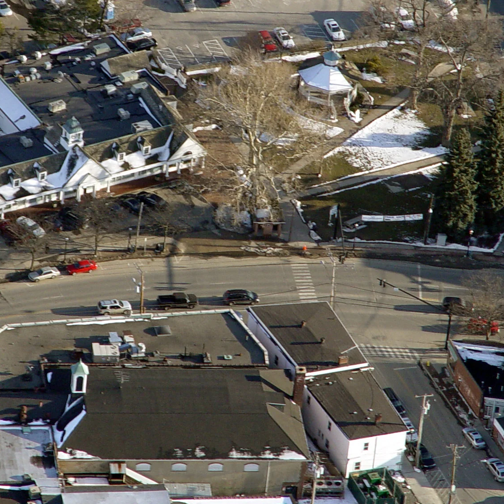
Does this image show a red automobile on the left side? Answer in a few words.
Yes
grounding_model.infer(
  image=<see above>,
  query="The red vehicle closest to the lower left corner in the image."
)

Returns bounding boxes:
[64,260,100,277]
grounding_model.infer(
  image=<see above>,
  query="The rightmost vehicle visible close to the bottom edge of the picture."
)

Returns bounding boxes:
[486,458,504,483]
